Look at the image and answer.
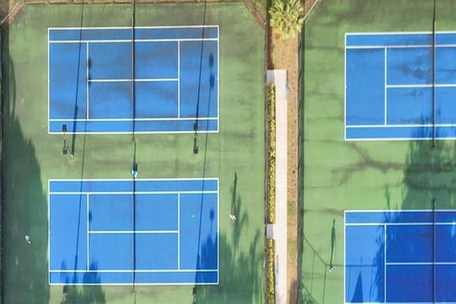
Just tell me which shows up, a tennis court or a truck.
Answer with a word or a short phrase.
tennis court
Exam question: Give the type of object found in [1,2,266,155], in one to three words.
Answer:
tennis court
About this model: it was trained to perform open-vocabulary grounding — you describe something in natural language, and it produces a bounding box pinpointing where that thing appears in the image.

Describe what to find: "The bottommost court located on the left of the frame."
[1,155,266,304]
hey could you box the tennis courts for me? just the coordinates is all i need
[1,2,266,155]
[1,155,266,304]
[302,0,456,174]
[302,174,456,304]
